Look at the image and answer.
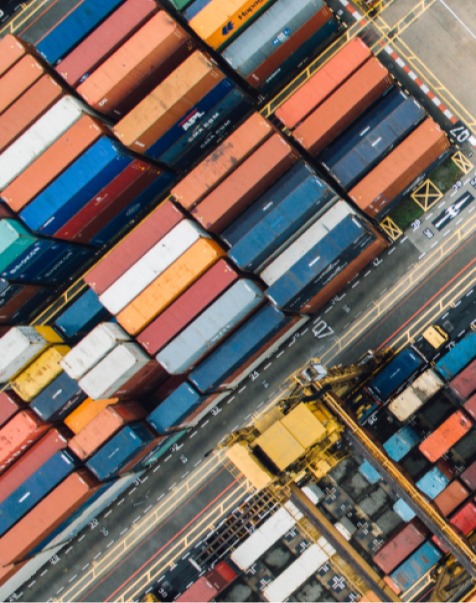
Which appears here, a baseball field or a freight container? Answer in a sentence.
This aerial view contains a freight container.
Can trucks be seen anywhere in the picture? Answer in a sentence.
Yes, you can see a truck in this photo.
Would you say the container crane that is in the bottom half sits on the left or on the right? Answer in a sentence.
The container crane that is in the bottom half is on the right side of the image.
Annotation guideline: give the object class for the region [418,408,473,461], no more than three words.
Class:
shipping container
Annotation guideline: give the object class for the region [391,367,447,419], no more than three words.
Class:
shipping container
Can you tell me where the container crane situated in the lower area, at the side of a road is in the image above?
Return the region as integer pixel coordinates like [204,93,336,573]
[207,344,476,603]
